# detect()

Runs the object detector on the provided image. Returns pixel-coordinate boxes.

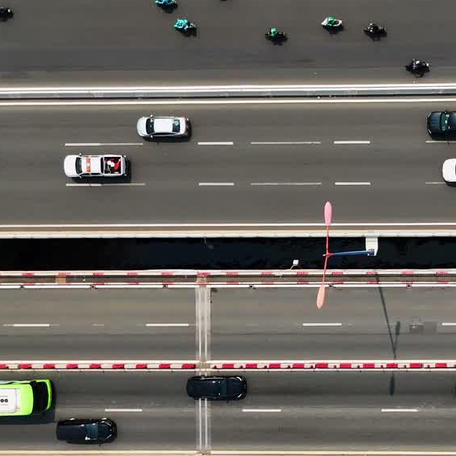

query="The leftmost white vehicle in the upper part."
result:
[65,152,130,179]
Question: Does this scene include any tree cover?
No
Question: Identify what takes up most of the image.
paved ground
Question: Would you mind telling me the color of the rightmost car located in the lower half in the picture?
black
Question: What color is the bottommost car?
black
